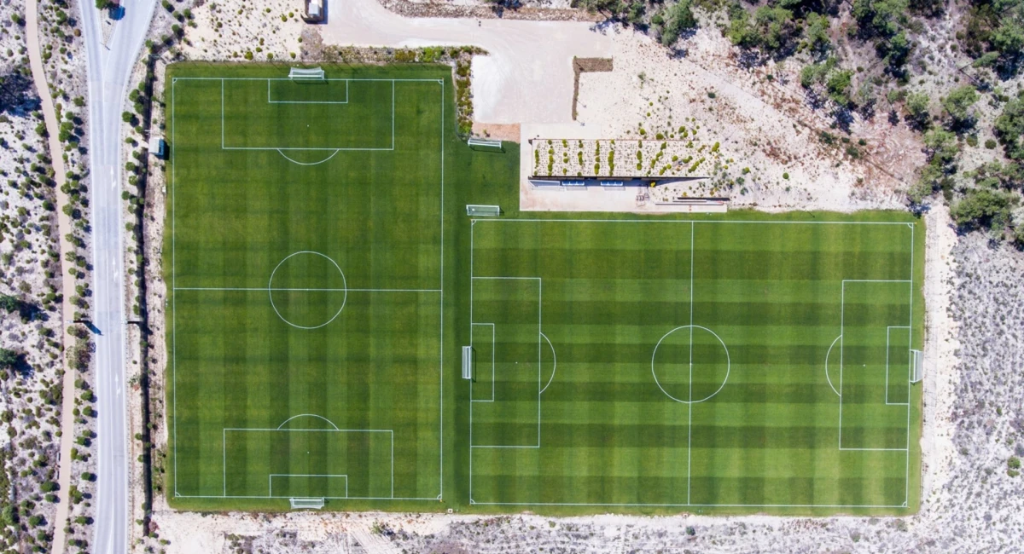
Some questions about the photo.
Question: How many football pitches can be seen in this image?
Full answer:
In total, there are 2 football pitches in the scene.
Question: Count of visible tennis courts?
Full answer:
There are no tennis courts in this view.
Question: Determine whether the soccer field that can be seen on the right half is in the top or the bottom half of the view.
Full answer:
It is in the bottom half that the soccer field that can be seen on the right half appears.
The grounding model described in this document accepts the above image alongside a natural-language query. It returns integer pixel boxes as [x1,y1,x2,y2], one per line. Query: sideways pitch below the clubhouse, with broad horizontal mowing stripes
[470,219,913,507]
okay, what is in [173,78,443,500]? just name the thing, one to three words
soccer field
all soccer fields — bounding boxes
[173,78,443,500]
[470,219,913,507]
